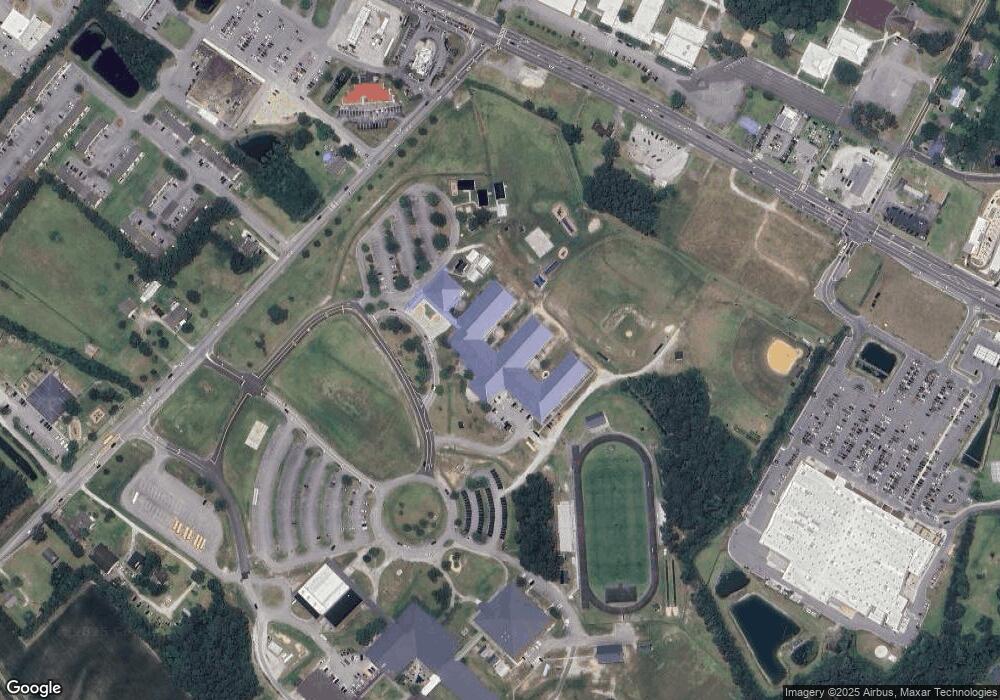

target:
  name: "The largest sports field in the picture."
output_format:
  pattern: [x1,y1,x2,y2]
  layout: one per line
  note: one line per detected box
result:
[583,442,648,603]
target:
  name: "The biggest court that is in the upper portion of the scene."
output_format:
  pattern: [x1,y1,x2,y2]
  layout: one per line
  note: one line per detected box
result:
[524,227,554,258]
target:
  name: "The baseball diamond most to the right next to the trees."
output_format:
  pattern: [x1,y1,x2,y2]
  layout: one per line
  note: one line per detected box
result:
[732,314,805,407]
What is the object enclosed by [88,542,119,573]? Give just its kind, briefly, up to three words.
house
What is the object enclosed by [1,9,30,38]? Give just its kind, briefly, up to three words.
building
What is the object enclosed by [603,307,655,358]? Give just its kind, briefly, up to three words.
baseball field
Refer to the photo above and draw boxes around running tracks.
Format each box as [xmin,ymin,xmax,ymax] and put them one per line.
[572,432,659,615]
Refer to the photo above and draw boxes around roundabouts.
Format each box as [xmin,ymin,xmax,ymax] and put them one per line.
[373,472,457,554]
